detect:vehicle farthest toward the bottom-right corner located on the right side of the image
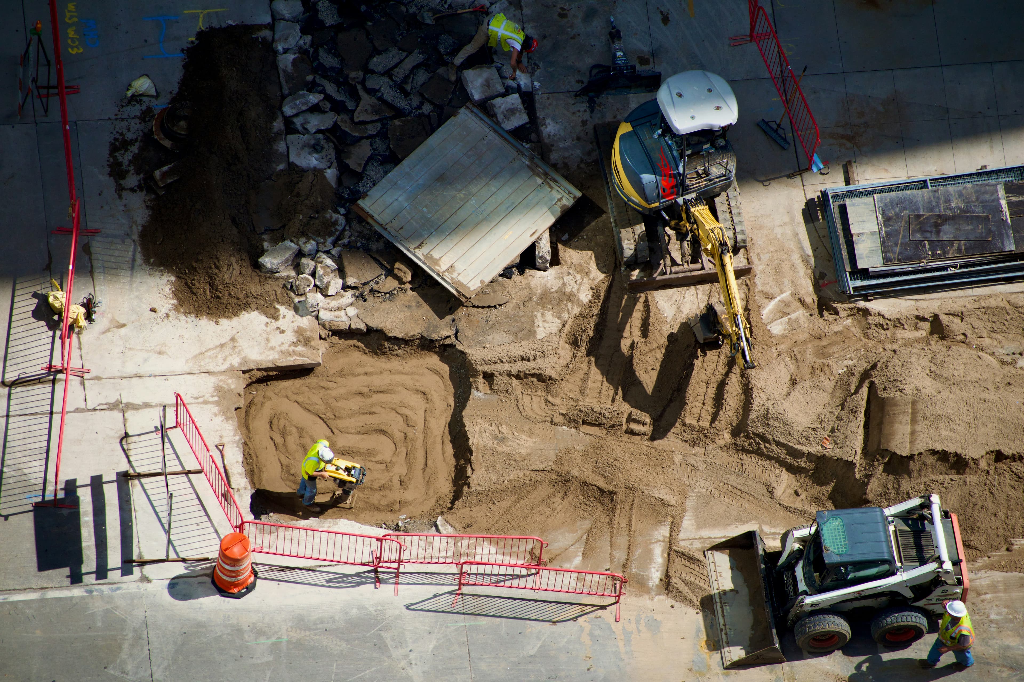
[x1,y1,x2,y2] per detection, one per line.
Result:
[706,500,974,670]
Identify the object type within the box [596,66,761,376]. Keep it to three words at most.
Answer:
work vehicle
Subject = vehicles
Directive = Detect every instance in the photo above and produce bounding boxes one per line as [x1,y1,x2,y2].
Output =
[706,500,974,670]
[596,66,761,376]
